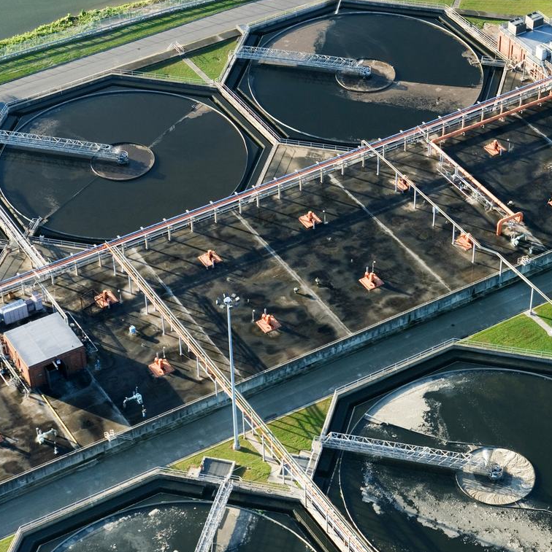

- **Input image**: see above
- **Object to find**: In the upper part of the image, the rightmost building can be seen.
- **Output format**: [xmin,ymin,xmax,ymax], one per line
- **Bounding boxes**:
[496,7,552,87]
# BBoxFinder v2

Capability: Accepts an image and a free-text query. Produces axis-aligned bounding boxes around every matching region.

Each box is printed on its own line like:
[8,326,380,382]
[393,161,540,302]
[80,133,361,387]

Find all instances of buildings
[1,310,84,388]
[496,7,552,87]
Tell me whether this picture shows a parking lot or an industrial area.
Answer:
industrial area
